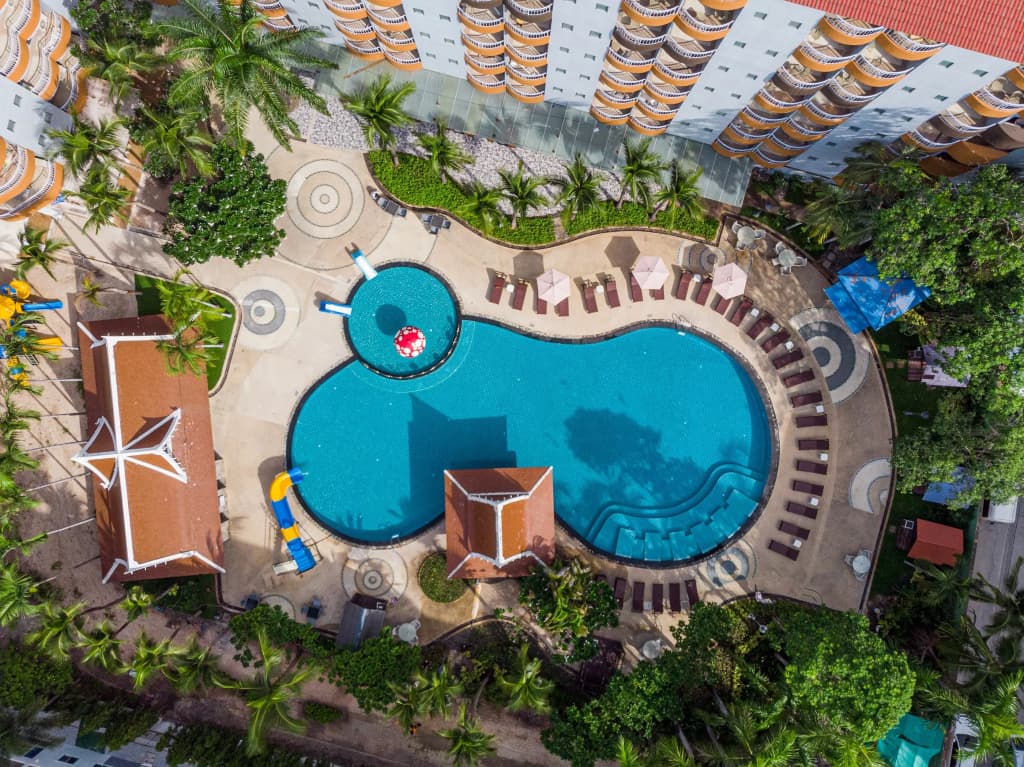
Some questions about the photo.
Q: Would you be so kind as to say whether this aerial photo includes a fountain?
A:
Yes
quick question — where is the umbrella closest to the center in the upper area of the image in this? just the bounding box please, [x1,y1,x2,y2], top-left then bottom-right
[537,270,569,305]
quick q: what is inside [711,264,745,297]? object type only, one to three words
umbrella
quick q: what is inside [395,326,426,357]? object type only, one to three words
fountain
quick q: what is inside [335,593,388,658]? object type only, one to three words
shed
